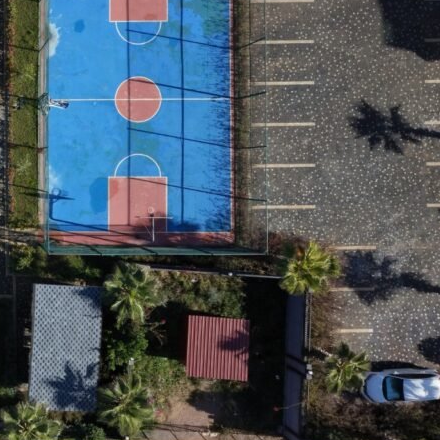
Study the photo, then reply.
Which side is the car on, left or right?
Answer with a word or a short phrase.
right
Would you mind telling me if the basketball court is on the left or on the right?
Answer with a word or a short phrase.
left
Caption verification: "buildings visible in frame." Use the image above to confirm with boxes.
[26,278,101,413]
[179,312,249,381]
